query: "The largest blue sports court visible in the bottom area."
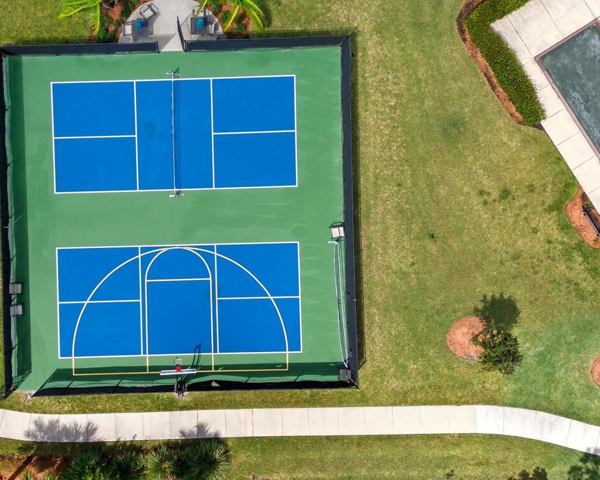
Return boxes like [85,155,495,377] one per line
[56,242,302,359]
